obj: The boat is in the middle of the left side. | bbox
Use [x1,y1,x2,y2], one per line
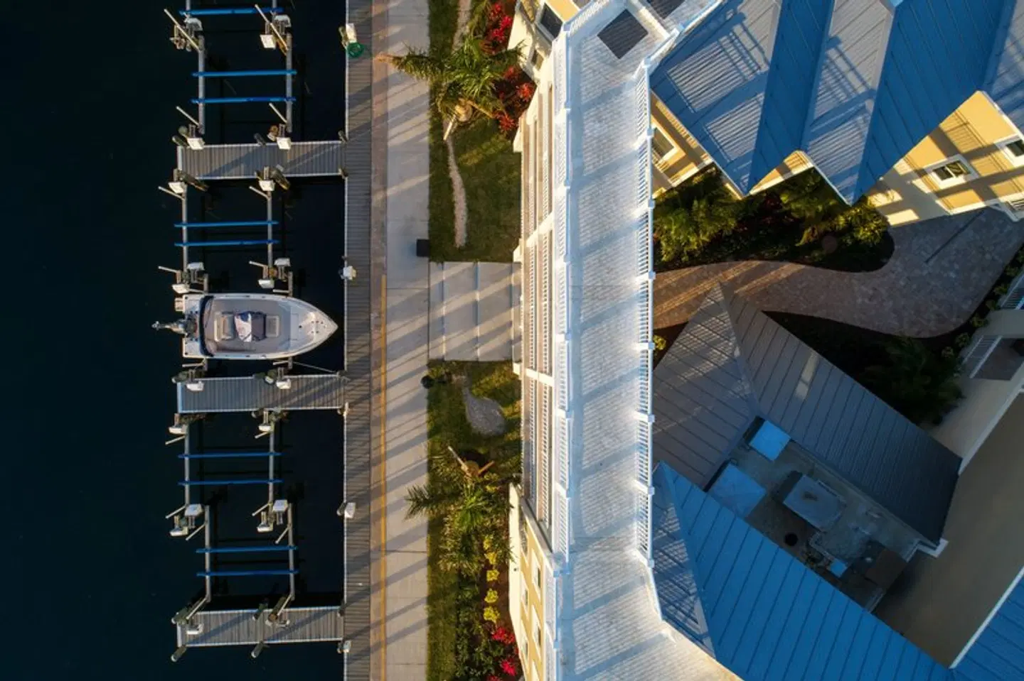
[154,292,338,362]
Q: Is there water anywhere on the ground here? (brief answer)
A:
Yes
